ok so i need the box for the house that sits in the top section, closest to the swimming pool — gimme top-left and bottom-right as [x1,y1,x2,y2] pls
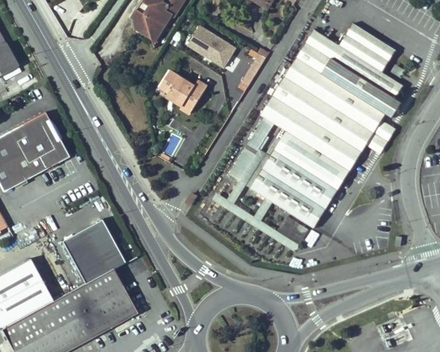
[158,69,207,115]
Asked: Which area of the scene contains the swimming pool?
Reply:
center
